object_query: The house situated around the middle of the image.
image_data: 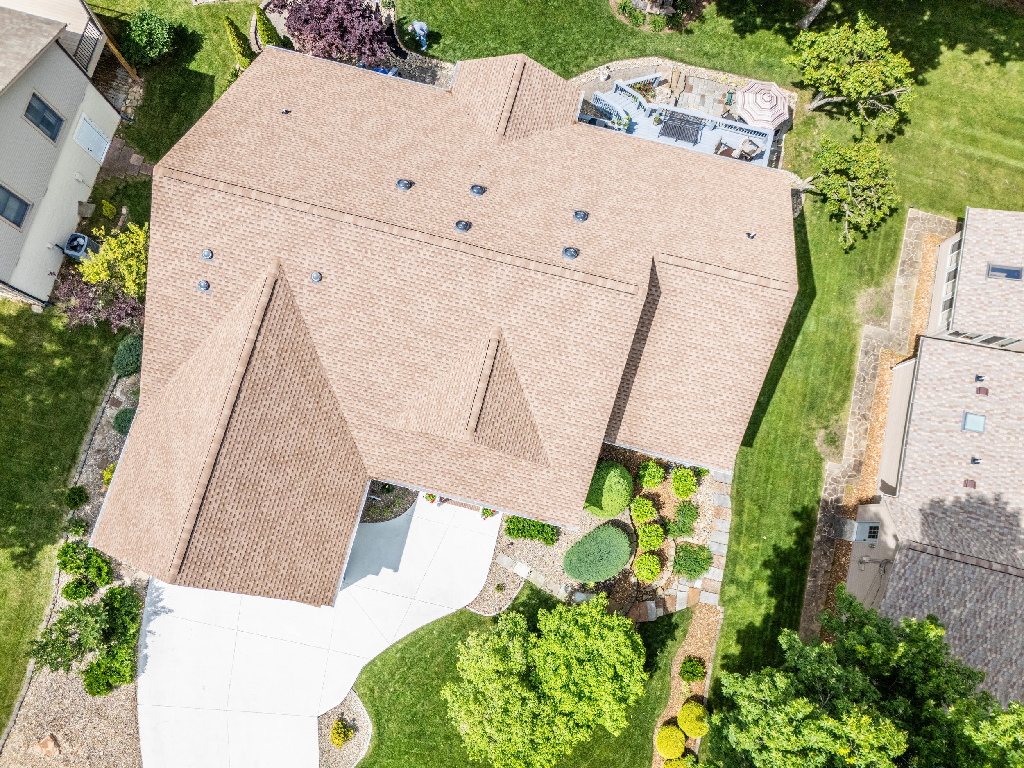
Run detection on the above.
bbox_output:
[88,42,798,608]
